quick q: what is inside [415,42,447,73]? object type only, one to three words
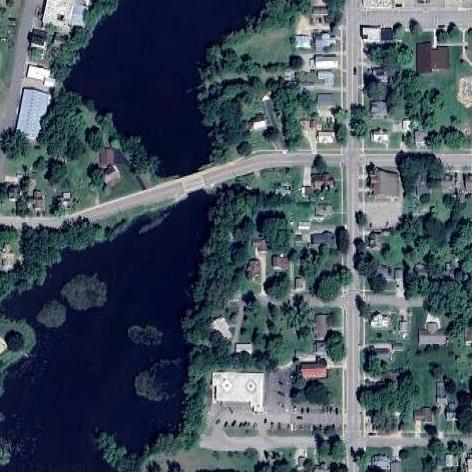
building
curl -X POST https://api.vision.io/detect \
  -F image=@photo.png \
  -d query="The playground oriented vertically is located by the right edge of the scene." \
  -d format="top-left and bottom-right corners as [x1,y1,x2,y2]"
[456,73,472,107]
